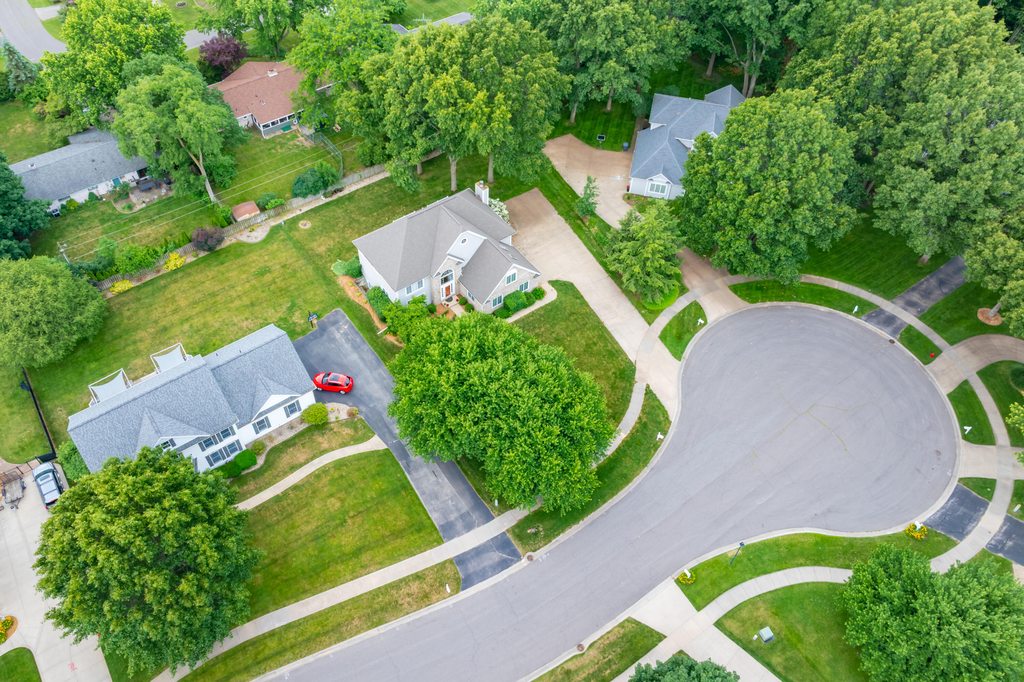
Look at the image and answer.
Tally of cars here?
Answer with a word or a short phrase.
two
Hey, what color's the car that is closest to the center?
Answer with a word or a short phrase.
red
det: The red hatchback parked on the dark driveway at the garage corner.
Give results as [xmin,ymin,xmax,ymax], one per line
[314,372,353,394]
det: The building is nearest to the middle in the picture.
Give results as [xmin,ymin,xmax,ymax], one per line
[352,179,542,314]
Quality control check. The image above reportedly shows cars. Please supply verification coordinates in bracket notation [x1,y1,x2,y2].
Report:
[33,467,68,517]
[314,372,353,394]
